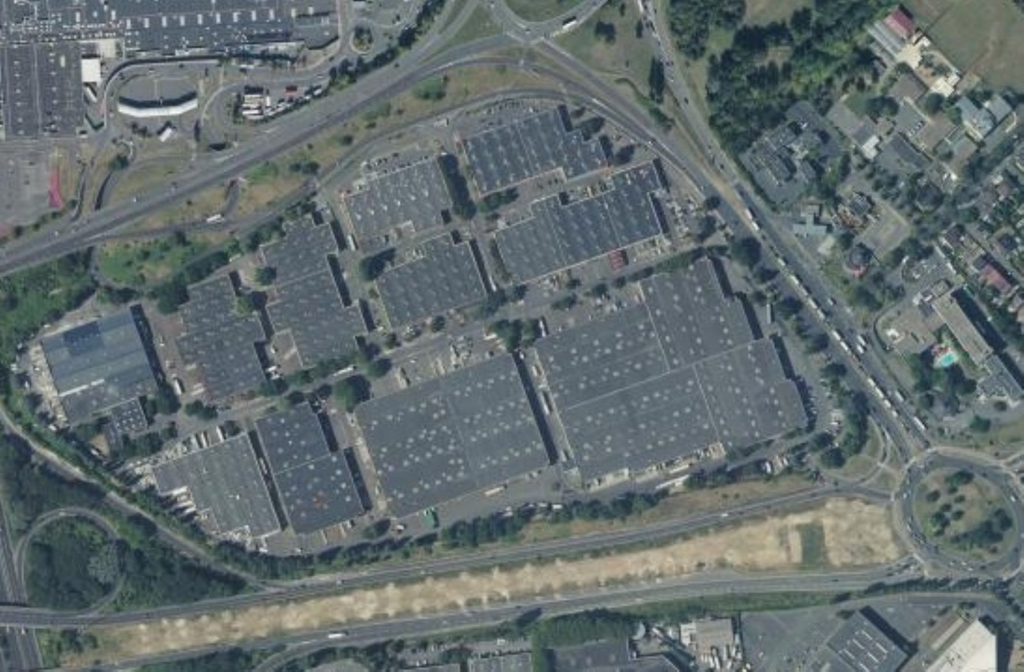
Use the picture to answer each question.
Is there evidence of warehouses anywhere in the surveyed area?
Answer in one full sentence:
Yes, you can see a warehouse in this photo.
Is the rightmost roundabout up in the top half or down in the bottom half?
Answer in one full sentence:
The rightmost roundabout is in the bottom half of the image.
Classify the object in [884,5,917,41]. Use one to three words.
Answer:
barn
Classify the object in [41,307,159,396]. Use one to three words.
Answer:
building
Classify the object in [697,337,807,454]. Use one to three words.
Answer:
warehouse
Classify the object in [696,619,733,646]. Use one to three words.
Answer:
building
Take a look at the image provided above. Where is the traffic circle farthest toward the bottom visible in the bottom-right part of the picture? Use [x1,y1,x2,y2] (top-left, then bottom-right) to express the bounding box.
[892,441,1024,584]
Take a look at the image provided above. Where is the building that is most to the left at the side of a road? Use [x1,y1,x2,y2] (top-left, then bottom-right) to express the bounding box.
[1,41,87,140]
